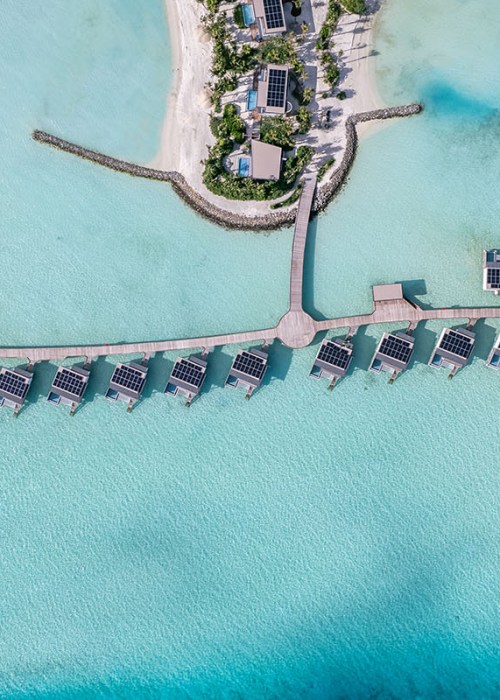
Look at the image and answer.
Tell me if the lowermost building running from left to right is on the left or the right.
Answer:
right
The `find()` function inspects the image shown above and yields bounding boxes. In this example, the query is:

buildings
[427,317,477,376]
[249,0,286,44]
[477,252,500,297]
[250,65,292,121]
[227,338,272,398]
[51,356,94,414]
[0,358,38,415]
[166,345,211,405]
[371,283,421,310]
[251,139,282,183]
[310,325,358,387]
[484,327,500,366]
[107,352,152,411]
[368,320,417,381]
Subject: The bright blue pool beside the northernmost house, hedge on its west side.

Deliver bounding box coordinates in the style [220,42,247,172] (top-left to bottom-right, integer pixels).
[240,3,256,28]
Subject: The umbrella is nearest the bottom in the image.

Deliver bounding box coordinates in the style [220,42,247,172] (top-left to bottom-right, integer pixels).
[198,92,213,107]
